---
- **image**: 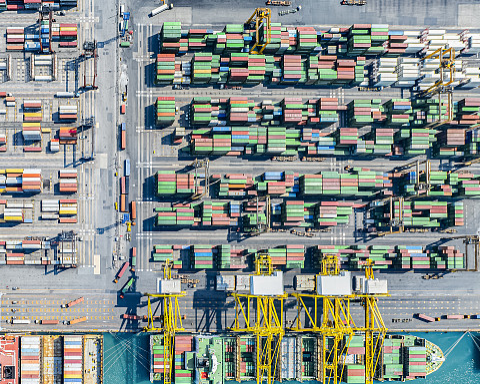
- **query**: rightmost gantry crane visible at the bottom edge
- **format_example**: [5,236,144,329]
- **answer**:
[335,262,397,384]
